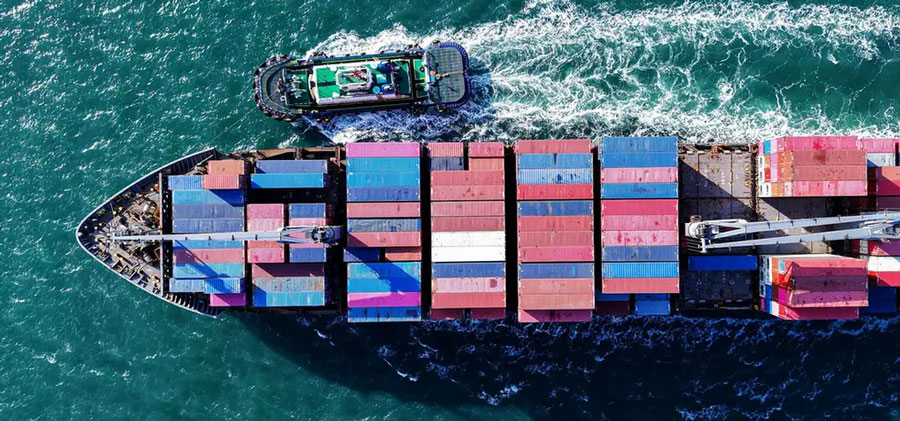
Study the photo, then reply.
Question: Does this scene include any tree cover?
No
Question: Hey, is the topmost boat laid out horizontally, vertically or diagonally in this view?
horizontally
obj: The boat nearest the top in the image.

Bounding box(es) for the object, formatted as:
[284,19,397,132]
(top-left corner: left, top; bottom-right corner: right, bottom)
[251,43,471,120]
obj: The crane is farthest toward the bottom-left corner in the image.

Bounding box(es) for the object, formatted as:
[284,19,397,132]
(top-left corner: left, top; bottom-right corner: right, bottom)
[106,224,348,251]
